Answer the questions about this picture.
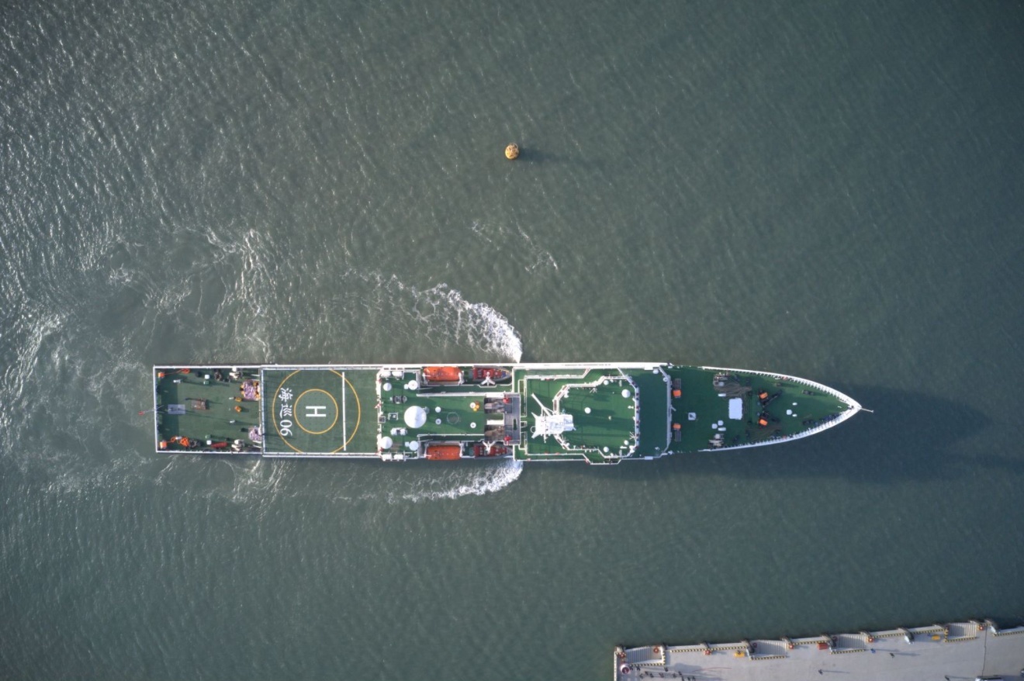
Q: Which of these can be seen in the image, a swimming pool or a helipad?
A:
helipad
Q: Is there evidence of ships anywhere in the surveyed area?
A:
Yes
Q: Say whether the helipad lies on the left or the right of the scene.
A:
left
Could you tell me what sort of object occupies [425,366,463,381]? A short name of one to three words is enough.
boat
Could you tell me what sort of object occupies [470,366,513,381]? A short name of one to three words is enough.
boat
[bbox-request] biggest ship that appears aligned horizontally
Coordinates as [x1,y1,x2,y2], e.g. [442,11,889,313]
[142,360,874,464]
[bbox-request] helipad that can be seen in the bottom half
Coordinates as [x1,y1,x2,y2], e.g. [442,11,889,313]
[260,365,379,457]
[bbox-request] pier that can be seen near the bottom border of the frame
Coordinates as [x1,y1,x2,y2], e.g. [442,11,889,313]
[613,615,1024,681]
